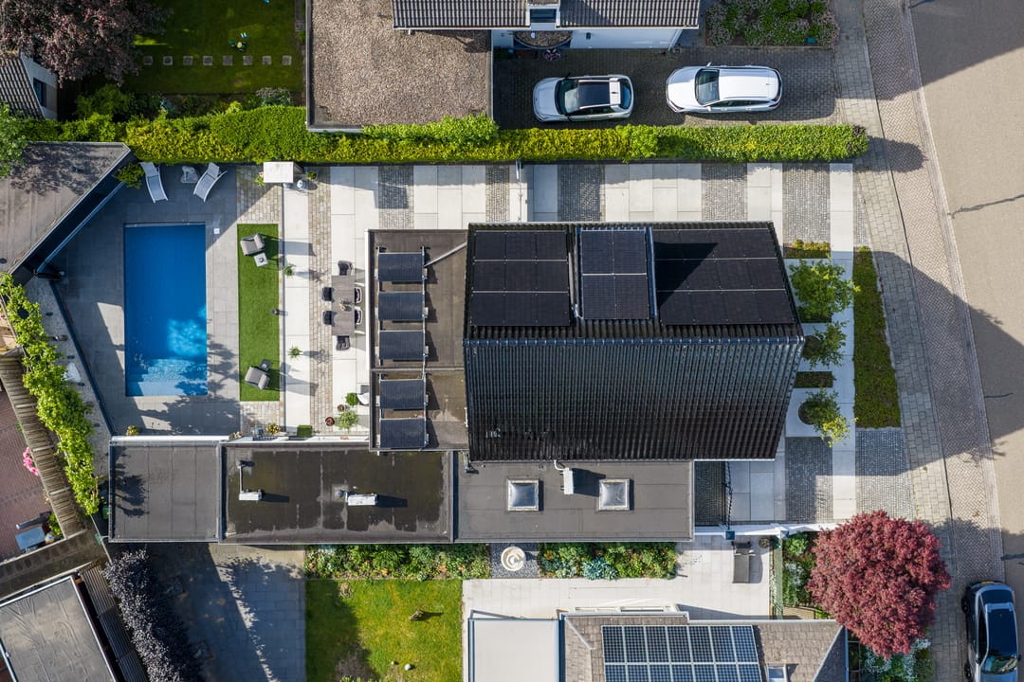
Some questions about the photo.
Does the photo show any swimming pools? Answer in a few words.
Yes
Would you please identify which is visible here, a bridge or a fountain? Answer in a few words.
fountain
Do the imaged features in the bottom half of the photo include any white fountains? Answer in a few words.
Yes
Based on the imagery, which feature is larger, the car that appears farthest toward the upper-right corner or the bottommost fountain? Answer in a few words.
the car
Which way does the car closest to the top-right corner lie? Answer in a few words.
horizontally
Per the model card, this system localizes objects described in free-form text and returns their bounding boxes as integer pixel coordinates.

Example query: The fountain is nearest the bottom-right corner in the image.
[501,547,525,571]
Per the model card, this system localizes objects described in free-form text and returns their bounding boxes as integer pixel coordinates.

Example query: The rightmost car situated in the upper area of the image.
[666,59,781,116]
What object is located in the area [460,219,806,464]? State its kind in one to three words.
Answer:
house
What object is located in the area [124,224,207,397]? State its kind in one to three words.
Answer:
swimming pool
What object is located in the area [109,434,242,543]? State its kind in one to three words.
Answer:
building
